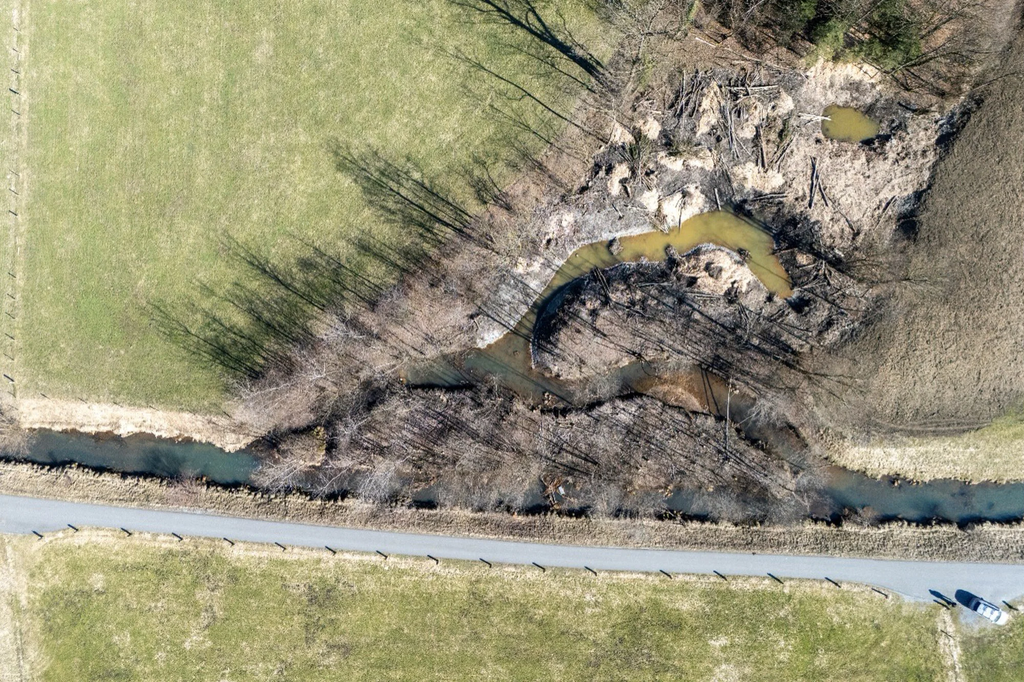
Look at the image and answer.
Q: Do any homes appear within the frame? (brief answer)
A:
No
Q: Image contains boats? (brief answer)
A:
No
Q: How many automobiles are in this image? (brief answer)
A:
one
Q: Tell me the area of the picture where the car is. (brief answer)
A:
bottom right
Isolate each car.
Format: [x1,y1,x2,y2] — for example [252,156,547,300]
[966,595,1012,626]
